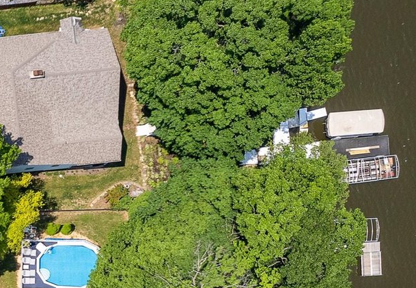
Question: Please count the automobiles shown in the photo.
zero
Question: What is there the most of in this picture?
trees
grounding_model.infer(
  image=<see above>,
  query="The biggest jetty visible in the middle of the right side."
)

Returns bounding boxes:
[338,134,391,157]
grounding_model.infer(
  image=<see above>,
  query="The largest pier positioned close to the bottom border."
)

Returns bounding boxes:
[358,251,383,275]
